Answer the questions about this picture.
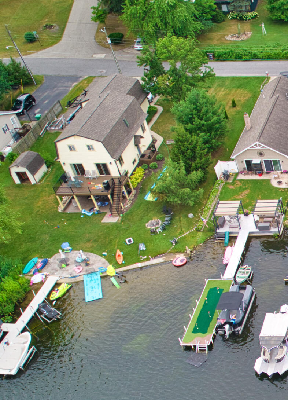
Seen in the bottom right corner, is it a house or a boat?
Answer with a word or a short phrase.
boat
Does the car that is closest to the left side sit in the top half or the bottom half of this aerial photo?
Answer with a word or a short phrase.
top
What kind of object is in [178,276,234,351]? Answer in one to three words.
pier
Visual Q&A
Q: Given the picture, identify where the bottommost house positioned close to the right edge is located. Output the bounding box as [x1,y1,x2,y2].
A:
[231,73,288,172]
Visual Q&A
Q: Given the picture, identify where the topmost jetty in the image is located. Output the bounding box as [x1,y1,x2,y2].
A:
[219,233,248,281]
